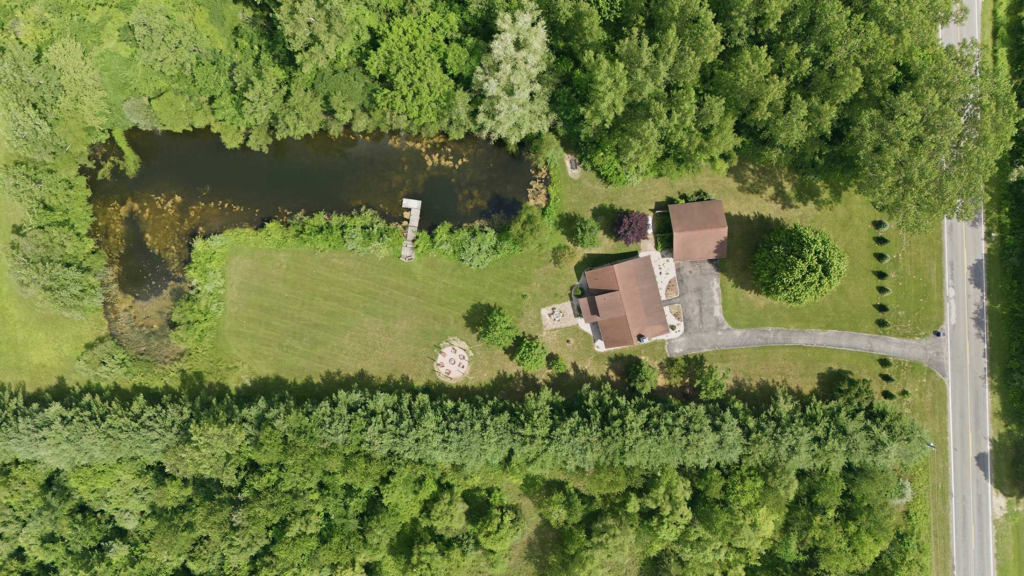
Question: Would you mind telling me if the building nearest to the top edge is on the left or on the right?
right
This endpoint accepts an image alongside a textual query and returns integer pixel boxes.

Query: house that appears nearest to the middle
[578,256,669,350]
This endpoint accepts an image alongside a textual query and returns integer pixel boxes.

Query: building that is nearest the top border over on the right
[667,199,728,262]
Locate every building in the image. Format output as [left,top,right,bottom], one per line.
[578,256,669,350]
[667,199,728,262]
